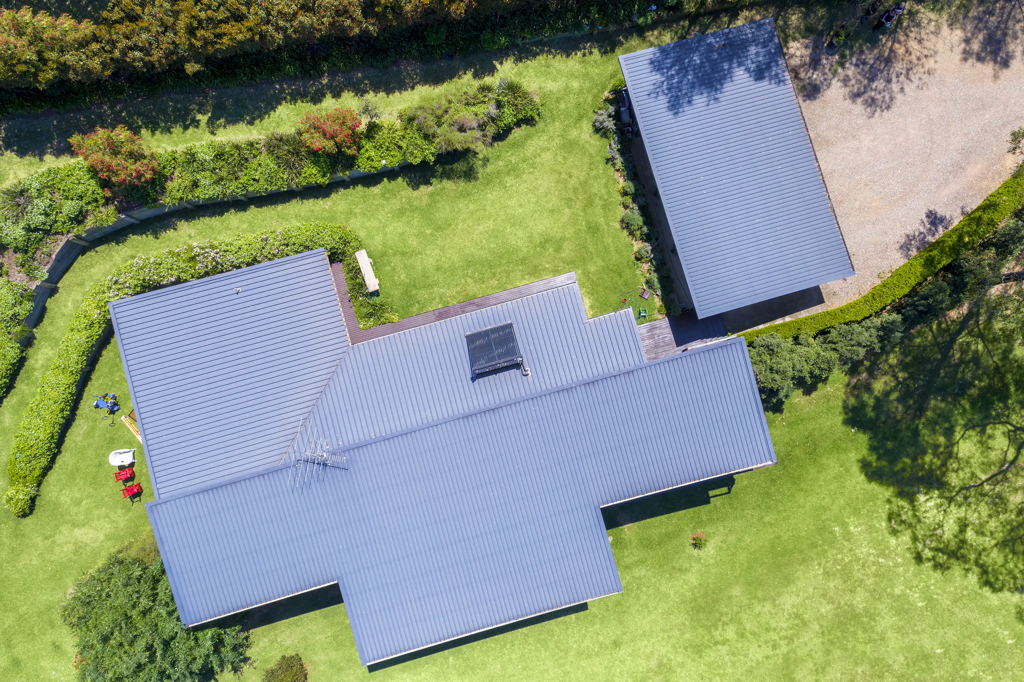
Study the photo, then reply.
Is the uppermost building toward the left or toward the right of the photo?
right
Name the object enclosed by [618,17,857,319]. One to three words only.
building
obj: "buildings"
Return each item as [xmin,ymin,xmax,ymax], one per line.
[618,17,857,319]
[107,247,777,667]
